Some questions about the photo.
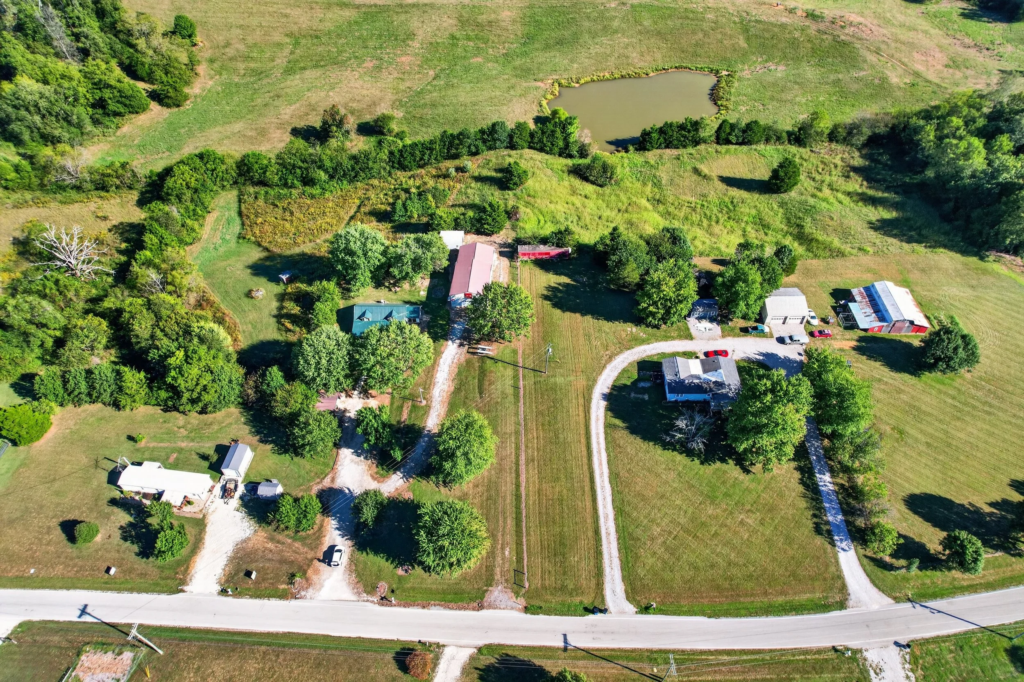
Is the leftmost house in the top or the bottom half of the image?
bottom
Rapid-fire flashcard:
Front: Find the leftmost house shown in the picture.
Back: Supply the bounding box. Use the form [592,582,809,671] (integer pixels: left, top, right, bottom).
[117,461,219,512]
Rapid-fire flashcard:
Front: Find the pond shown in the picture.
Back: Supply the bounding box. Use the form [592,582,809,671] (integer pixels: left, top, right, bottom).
[550,71,719,152]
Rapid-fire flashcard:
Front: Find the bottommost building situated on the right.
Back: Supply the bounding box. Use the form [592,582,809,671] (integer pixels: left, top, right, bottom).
[661,354,739,413]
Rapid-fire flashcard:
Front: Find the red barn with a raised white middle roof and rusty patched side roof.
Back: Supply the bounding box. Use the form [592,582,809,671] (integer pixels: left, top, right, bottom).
[845,278,931,334]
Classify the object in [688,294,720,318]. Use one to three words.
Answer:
shed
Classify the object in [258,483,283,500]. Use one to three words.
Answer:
shed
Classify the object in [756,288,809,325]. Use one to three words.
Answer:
building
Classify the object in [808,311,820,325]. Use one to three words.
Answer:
vehicle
